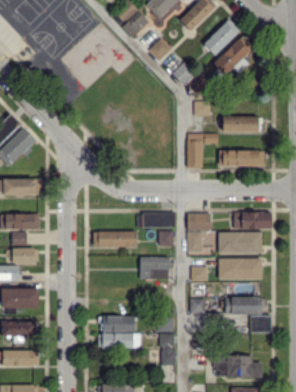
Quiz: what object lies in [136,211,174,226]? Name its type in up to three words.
house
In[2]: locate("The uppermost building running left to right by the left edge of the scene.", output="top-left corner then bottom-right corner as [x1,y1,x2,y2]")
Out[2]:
[0,178,38,196]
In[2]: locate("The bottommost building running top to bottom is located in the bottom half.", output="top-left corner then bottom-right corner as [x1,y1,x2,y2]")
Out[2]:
[160,333,174,366]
